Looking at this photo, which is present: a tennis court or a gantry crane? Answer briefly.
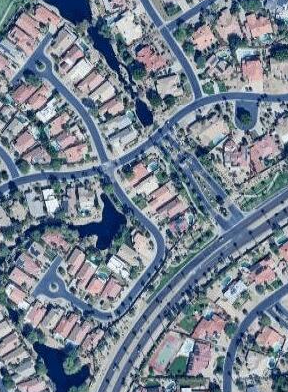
tennis court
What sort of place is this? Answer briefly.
residential area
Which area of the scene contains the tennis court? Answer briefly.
bottom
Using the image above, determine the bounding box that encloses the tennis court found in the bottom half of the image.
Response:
[151,331,183,373]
